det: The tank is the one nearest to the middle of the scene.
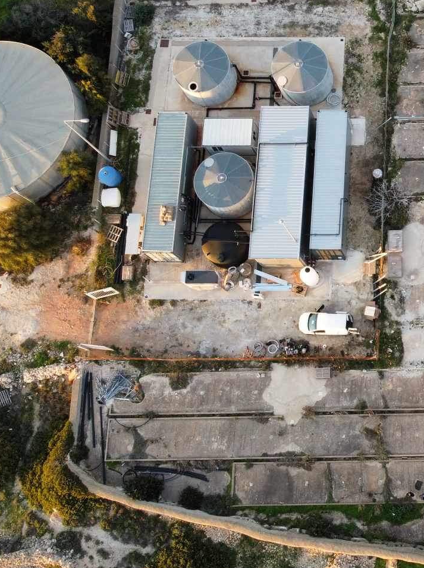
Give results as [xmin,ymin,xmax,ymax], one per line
[202,222,251,272]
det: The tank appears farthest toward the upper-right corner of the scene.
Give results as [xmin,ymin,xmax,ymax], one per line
[271,39,333,105]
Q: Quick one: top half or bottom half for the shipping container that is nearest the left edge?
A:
top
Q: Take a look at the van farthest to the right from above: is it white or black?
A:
white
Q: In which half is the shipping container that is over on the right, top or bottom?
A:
top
